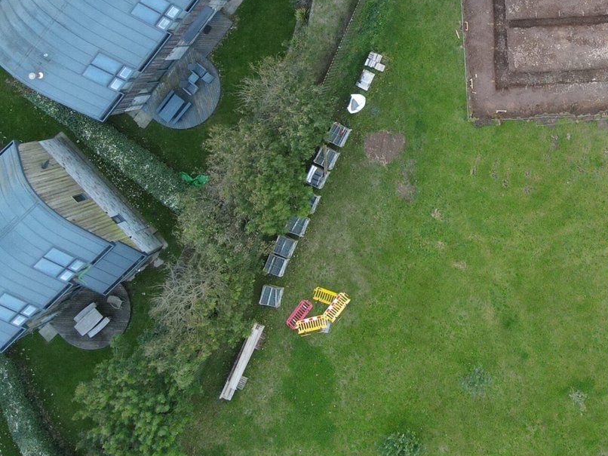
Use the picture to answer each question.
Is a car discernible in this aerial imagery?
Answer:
No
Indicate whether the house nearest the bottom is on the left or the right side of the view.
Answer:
left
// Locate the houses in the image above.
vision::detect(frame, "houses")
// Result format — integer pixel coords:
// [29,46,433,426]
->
[0,0,236,123]
[0,125,178,356]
